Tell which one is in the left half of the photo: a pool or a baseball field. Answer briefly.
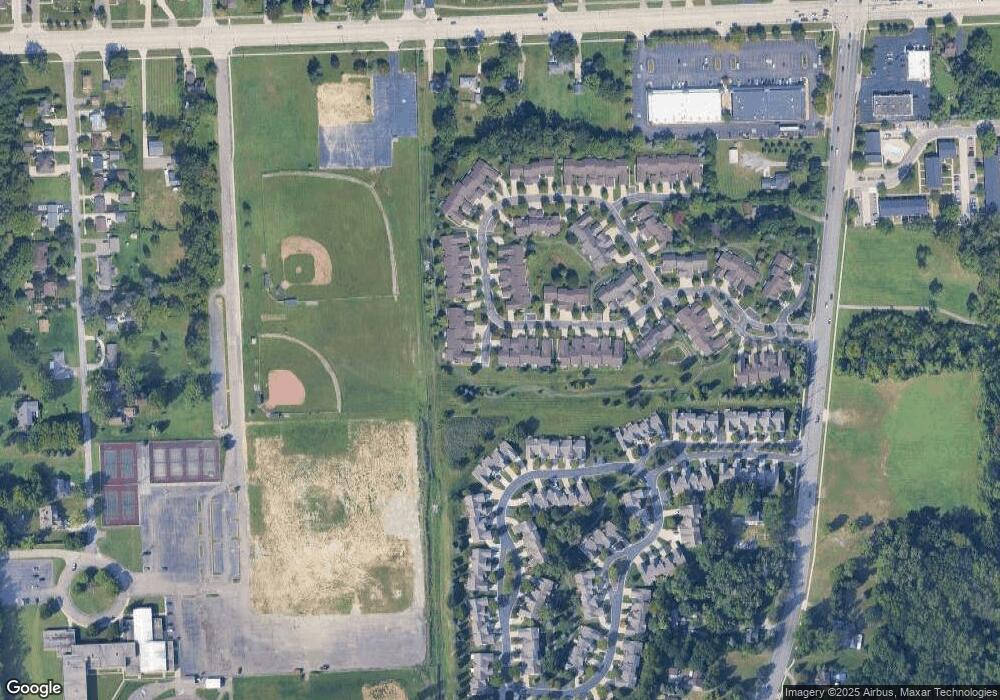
baseball field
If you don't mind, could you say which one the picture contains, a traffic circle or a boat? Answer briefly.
traffic circle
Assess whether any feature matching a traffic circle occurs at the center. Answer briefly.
No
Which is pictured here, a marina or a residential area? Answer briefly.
residential area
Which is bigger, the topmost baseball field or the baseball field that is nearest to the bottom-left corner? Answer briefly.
the topmost baseball field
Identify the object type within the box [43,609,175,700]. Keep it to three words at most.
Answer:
building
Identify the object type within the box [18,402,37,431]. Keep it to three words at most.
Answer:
house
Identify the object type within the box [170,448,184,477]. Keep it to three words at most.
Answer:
tennis court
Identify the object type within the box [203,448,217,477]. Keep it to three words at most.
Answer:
tennis court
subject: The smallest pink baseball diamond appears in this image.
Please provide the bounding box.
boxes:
[254,332,342,417]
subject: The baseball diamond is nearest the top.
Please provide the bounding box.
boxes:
[261,174,398,320]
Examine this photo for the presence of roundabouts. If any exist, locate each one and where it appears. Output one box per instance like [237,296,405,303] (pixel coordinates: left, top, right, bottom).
[58,557,131,626]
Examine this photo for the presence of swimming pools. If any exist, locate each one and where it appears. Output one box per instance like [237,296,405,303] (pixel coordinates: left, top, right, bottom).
[881,136,913,165]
